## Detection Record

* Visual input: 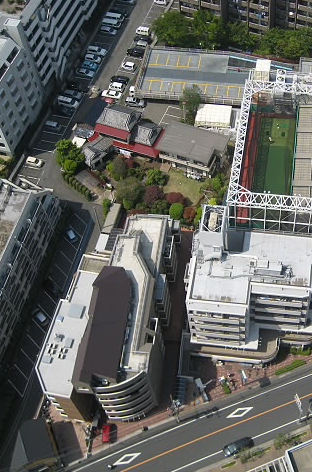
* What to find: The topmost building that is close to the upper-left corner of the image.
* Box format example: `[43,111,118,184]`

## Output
[0,0,99,90]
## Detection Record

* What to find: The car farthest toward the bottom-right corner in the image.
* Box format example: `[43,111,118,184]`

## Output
[225,435,253,456]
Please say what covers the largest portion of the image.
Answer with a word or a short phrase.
buildings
